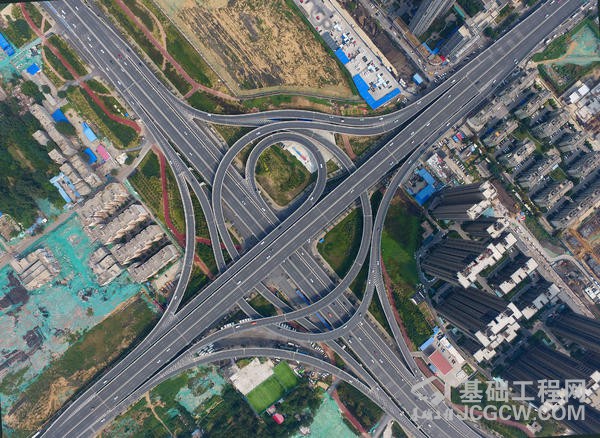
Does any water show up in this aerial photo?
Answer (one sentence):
No, water can't be seen anywhere here.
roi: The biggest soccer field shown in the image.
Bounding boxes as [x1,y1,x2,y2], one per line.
[247,374,286,417]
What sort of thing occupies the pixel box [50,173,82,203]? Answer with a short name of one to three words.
shed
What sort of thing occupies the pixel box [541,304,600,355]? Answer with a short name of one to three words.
building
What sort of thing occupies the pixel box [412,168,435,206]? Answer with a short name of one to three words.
shed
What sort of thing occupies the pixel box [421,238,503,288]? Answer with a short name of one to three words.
building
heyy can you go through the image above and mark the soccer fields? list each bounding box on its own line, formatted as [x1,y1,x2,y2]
[274,361,299,392]
[247,374,286,417]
